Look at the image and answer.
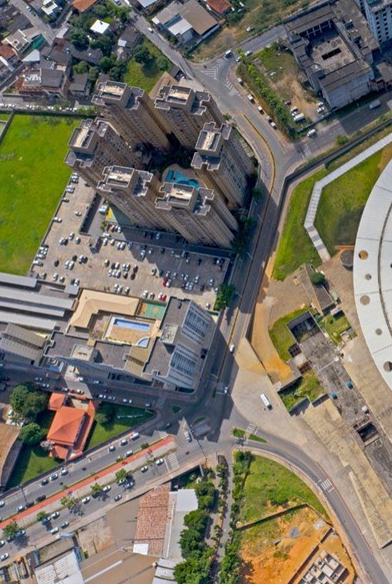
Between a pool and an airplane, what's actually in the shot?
pool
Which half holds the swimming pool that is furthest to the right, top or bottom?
top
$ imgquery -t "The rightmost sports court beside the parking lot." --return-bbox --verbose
[139,302,170,321]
